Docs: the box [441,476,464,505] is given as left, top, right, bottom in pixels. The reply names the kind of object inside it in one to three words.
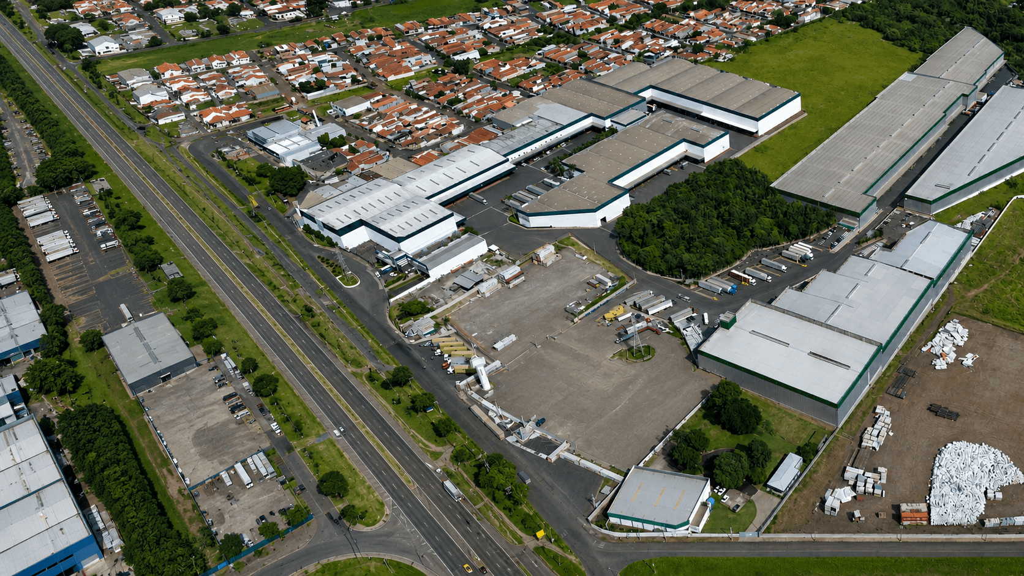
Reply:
truck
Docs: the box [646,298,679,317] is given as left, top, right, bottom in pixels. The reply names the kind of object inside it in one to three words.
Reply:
vehicle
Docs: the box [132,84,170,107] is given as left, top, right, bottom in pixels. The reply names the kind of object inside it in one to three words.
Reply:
building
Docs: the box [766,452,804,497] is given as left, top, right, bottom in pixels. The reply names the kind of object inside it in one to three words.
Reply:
house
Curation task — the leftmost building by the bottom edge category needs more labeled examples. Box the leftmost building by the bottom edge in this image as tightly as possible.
[0,412,103,576]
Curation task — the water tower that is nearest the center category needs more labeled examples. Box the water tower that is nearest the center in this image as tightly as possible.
[473,353,492,393]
